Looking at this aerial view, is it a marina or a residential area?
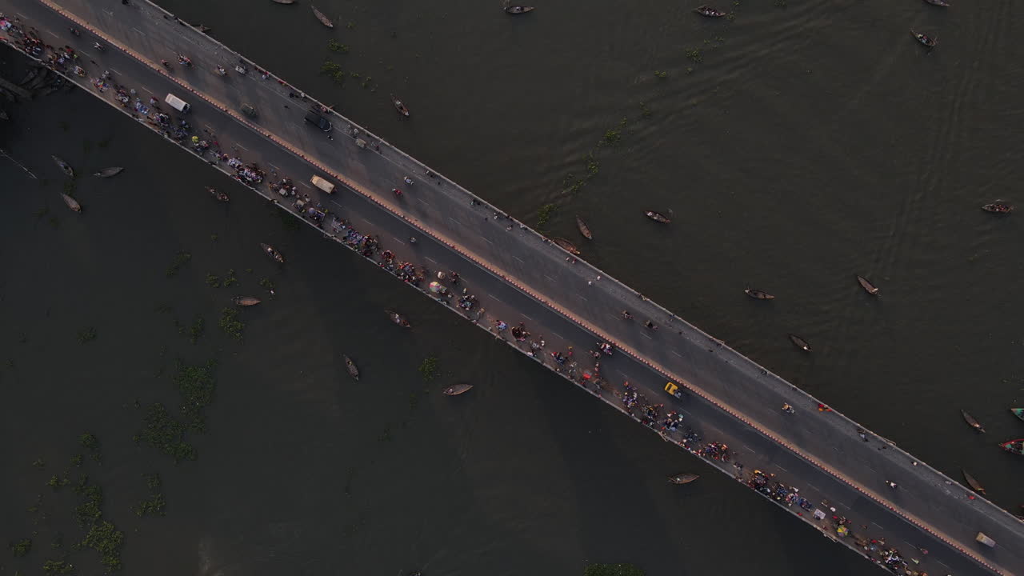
marina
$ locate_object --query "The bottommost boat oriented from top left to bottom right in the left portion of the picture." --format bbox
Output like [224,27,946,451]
[342,355,359,382]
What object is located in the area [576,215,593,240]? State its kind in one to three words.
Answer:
boat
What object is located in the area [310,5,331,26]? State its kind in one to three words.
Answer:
boat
